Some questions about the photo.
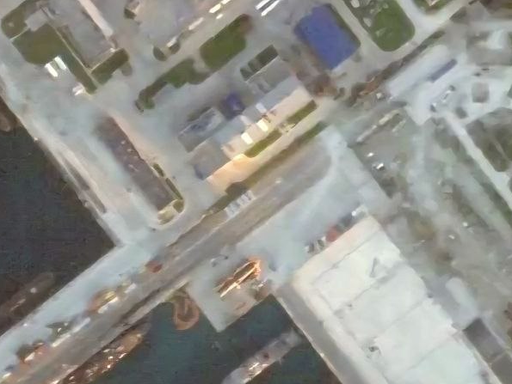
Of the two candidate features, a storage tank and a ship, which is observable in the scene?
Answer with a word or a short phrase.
ship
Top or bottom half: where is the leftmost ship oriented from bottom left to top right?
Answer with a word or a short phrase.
bottom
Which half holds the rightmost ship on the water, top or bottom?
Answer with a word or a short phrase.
bottom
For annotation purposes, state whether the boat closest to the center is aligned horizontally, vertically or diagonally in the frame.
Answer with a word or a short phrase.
diagonally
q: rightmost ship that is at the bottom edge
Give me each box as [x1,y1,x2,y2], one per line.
[223,326,303,384]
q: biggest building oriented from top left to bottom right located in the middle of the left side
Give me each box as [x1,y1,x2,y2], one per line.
[98,116,174,210]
